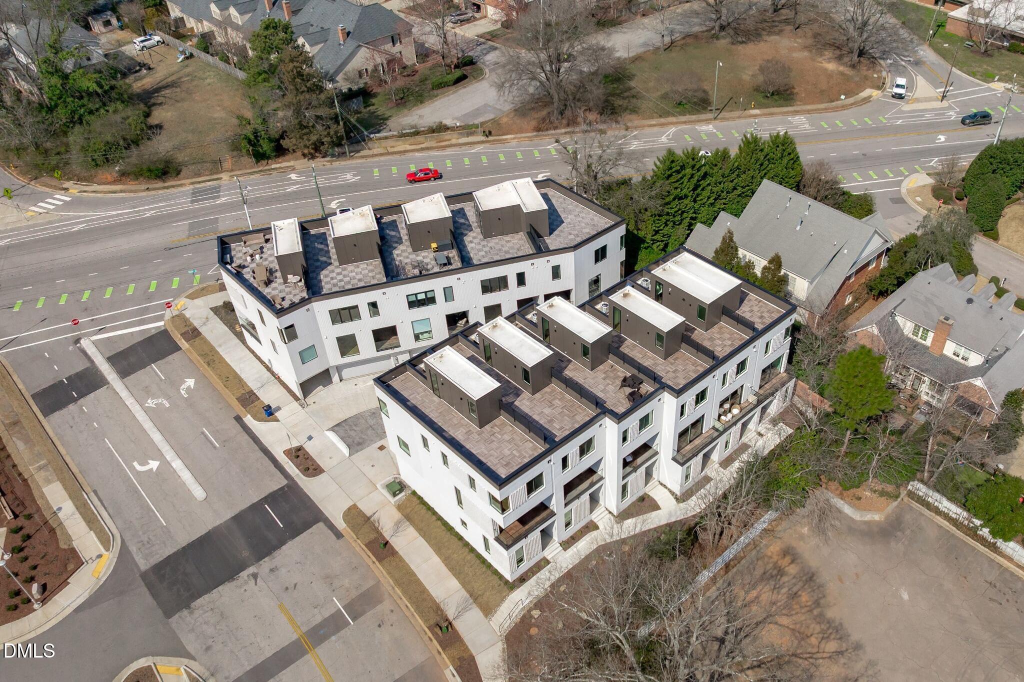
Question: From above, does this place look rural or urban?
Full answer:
The area shown here is urban.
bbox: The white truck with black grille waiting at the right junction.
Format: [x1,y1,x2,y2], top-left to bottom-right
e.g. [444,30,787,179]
[891,71,909,97]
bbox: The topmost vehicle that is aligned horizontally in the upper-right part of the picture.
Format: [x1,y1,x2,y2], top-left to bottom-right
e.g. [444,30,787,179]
[958,108,996,127]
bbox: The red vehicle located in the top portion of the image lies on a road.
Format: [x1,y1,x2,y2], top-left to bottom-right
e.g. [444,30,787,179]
[405,166,442,184]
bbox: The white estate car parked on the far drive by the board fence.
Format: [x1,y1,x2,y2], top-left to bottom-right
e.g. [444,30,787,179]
[130,32,164,49]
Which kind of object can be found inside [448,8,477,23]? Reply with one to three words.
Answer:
car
